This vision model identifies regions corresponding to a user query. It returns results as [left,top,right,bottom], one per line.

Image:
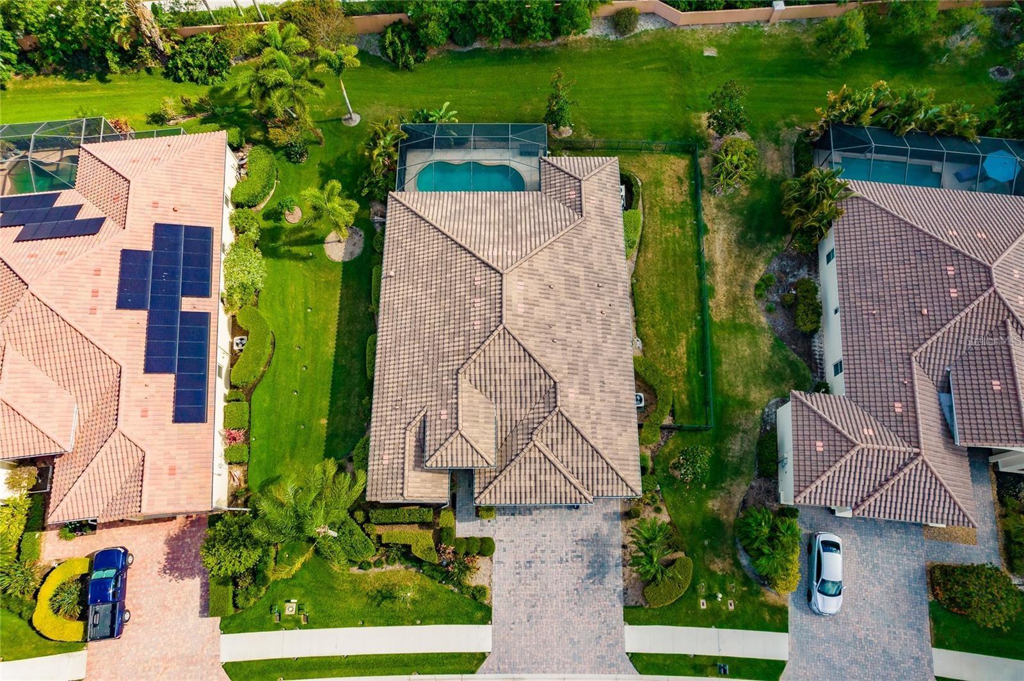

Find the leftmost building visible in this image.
[0,130,238,529]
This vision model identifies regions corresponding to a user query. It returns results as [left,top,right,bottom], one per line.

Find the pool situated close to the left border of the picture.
[1,154,78,195]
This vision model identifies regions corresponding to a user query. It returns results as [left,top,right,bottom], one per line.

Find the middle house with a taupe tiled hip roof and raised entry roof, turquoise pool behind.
[365,156,642,505]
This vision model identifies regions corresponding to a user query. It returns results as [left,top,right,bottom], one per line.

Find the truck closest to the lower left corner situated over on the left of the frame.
[87,547,136,646]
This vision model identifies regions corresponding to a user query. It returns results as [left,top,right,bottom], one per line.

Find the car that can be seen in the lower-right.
[810,534,851,618]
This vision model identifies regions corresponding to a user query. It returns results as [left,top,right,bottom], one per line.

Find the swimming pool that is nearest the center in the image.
[412,157,529,191]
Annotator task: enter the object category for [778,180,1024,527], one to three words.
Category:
house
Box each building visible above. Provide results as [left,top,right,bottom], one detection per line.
[778,180,1024,527]
[365,156,642,505]
[0,130,238,529]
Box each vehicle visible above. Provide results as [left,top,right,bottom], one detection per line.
[810,534,851,618]
[87,547,136,646]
